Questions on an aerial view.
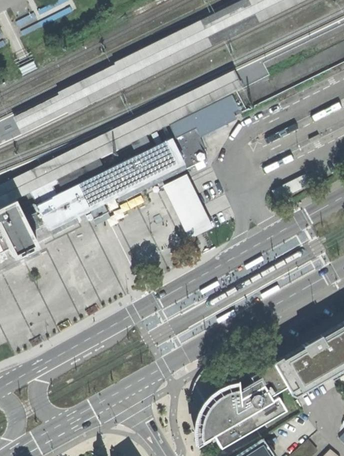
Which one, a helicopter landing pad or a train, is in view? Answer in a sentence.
This aerial view contains a train.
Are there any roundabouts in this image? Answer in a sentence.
No, this view has no roundabout in it.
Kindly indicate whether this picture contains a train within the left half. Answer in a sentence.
No, I see no train within the left half.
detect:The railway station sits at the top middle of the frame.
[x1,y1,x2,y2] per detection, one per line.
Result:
[0,0,344,196]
